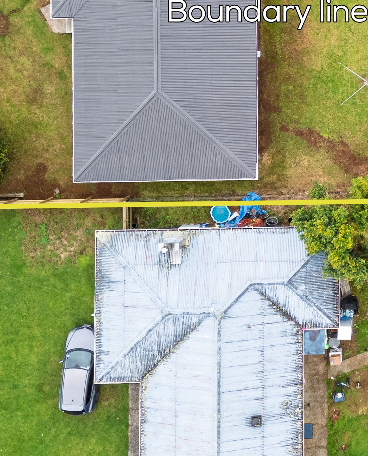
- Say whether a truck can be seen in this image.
No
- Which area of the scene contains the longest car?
bottom left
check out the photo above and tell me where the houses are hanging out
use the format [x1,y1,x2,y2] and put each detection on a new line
[48,0,264,184]
[89,222,342,456]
